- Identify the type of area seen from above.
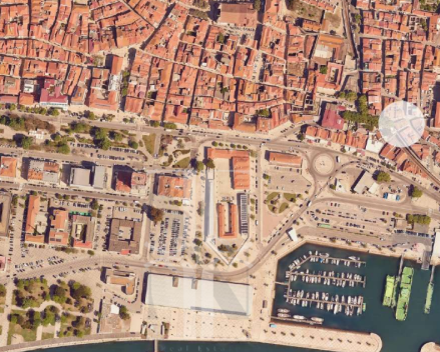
residential area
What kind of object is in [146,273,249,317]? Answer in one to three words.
building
